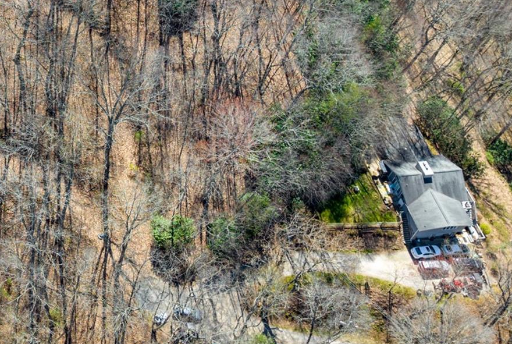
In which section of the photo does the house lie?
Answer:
right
